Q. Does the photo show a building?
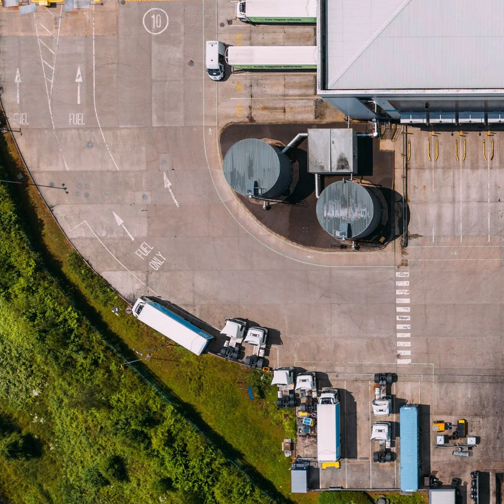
Yes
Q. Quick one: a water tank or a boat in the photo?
water tank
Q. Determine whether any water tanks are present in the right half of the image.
Yes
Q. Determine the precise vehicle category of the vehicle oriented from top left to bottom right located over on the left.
truck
